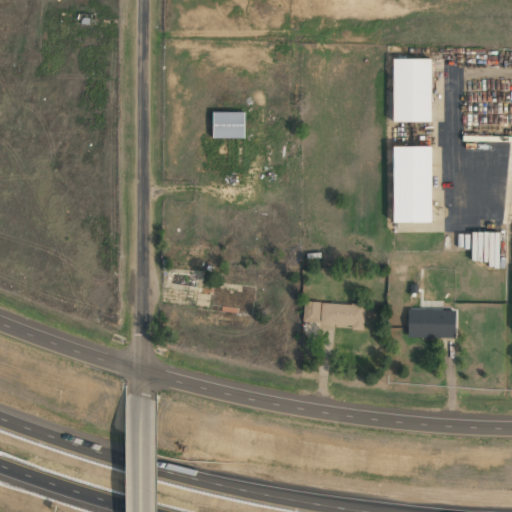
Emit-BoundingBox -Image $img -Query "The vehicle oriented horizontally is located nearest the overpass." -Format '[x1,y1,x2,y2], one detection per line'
[157,460,198,476]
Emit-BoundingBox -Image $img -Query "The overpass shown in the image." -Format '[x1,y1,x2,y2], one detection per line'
[114,384,158,512]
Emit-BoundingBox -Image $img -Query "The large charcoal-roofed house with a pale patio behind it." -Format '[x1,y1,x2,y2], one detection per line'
[409,307,456,338]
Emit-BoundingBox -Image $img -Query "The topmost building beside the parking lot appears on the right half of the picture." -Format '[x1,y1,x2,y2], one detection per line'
[394,58,433,122]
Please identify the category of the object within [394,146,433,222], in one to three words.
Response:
building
